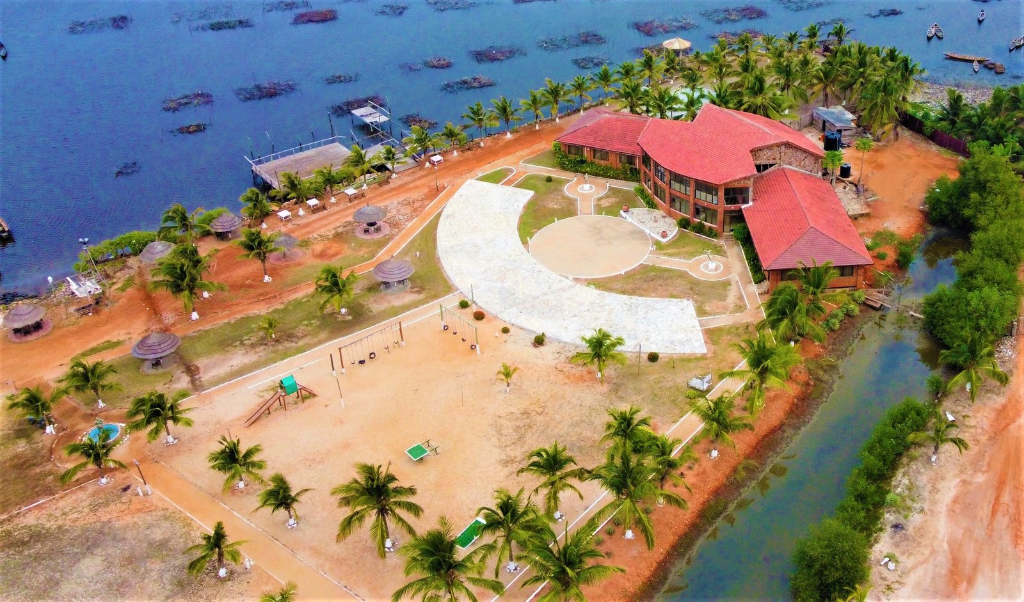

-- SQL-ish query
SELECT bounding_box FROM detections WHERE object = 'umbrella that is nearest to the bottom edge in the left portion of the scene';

[129,336,179,366]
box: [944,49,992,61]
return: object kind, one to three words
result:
boat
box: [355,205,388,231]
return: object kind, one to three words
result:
umbrella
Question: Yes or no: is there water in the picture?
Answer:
Yes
